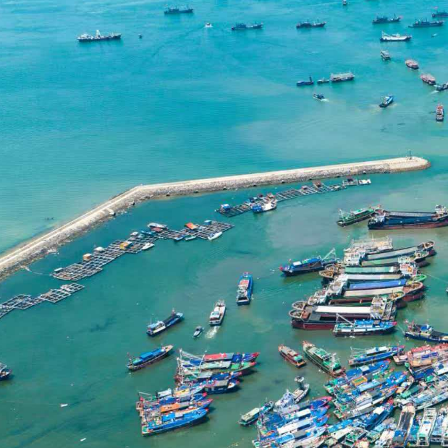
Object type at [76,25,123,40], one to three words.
ship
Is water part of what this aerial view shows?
Yes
